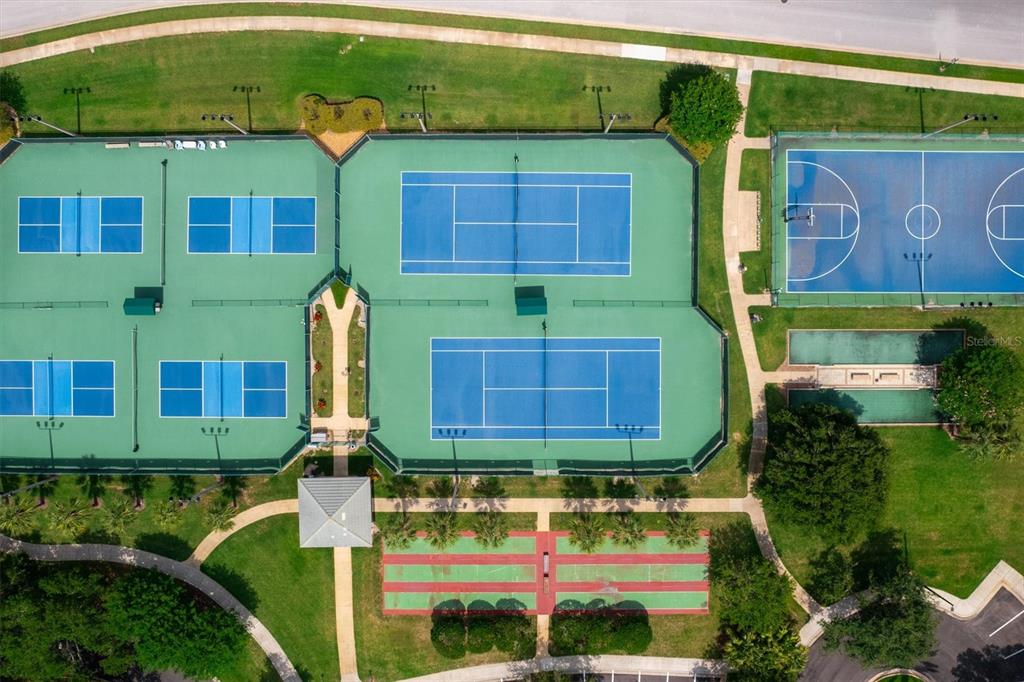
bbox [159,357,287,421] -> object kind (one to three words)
sports court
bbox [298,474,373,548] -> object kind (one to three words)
gazebo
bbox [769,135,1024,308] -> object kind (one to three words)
basketball court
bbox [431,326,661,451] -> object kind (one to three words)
tennis court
